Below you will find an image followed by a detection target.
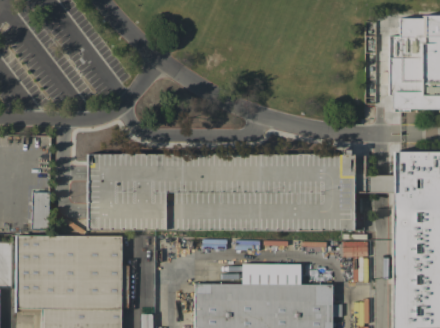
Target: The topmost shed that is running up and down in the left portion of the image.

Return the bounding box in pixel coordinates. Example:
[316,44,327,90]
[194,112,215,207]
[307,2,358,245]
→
[32,193,50,232]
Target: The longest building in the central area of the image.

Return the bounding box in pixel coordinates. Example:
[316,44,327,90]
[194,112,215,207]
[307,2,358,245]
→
[86,148,356,232]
